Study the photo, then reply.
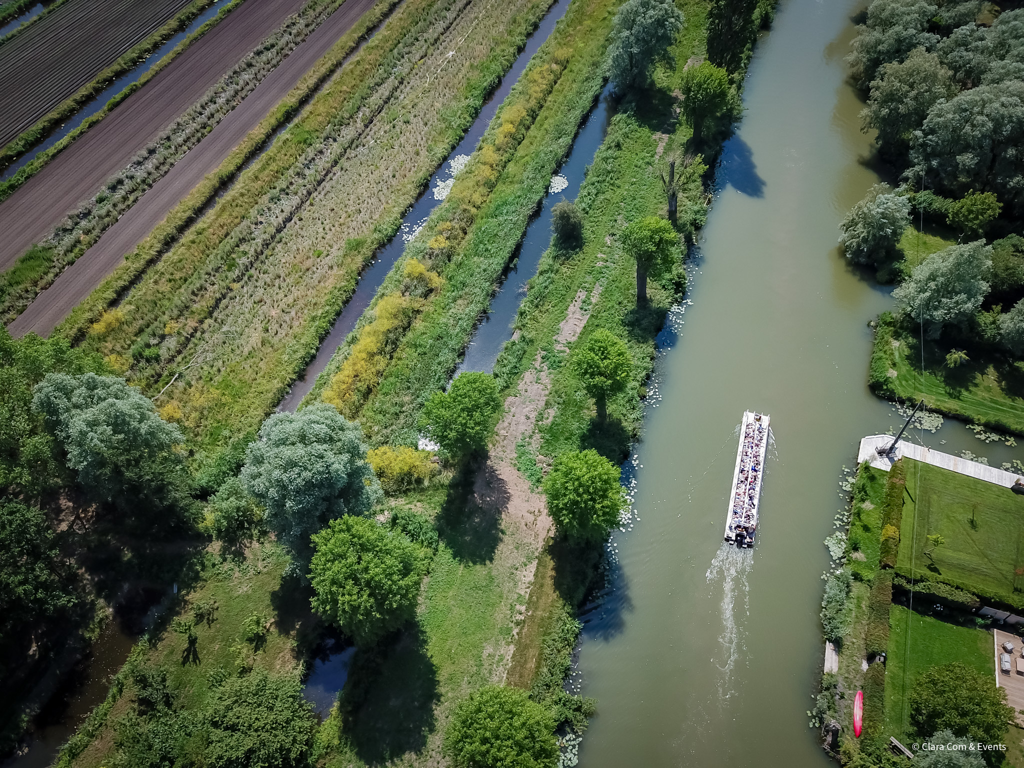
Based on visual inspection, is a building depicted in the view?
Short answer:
No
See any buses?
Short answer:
No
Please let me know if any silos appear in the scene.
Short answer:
No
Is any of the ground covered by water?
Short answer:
Yes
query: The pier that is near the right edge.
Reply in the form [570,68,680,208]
[856,433,1024,487]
